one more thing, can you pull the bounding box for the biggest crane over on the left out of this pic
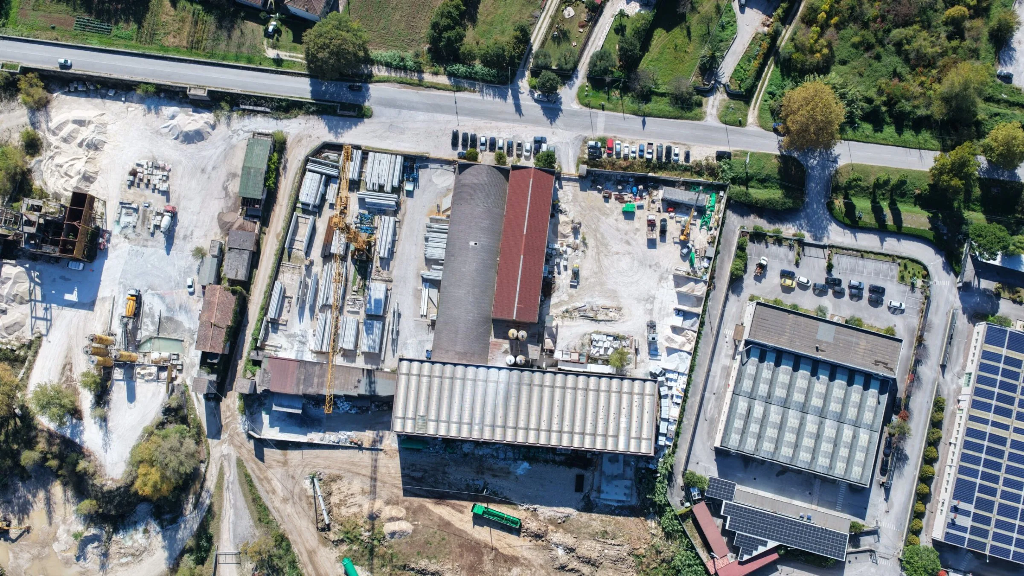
[325,146,372,412]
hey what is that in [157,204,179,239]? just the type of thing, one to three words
truck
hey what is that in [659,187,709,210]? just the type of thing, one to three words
shed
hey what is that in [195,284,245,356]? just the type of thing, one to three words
house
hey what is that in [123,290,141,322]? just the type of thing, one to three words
vehicle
